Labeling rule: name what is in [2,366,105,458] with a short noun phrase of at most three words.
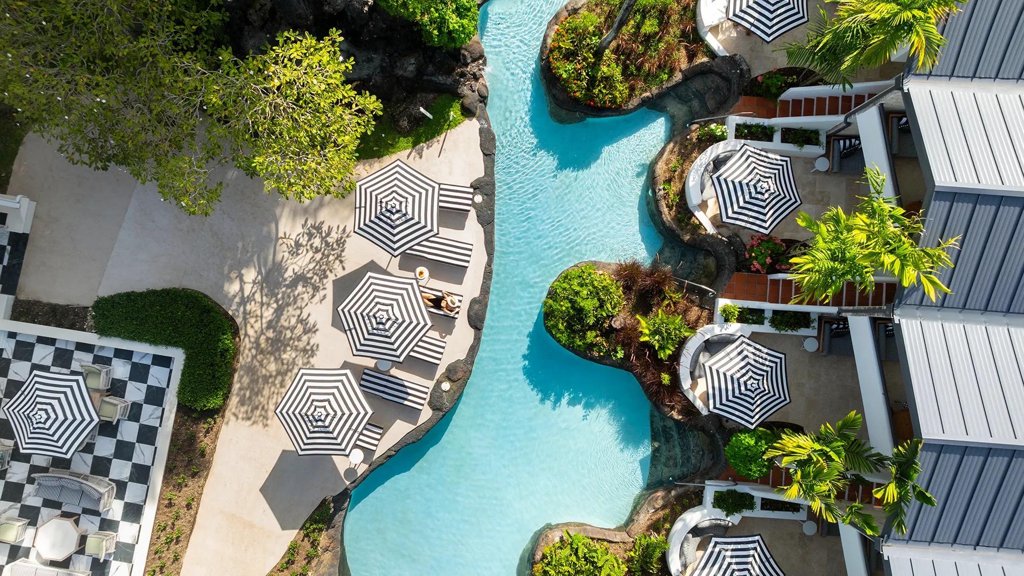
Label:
umbrella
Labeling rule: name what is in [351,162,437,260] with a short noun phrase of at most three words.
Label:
umbrella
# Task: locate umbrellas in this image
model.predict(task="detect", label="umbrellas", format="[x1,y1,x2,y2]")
[336,271,431,363]
[705,144,799,235]
[728,0,809,42]
[690,530,788,576]
[273,365,372,453]
[2,366,105,458]
[351,162,437,260]
[704,334,792,430]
